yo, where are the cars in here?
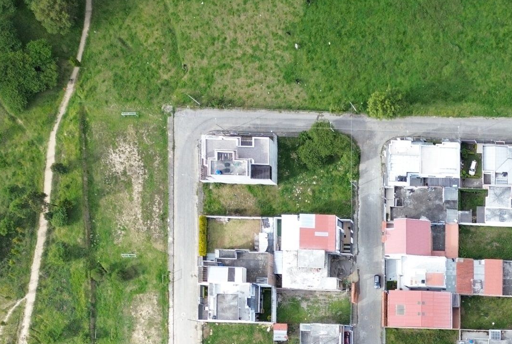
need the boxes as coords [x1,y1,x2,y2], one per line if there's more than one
[468,159,478,176]
[373,275,381,289]
[345,332,352,344]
